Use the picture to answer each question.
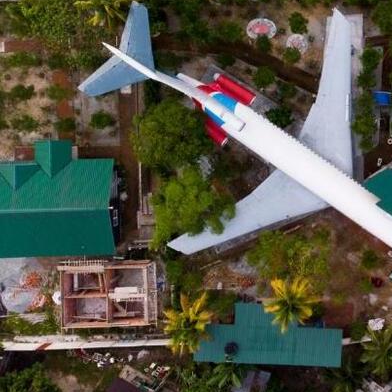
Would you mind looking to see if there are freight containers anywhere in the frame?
No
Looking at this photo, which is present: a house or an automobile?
house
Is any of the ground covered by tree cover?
Yes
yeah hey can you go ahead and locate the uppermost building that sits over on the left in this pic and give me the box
[0,139,122,256]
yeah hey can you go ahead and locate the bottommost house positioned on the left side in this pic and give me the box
[99,365,161,392]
